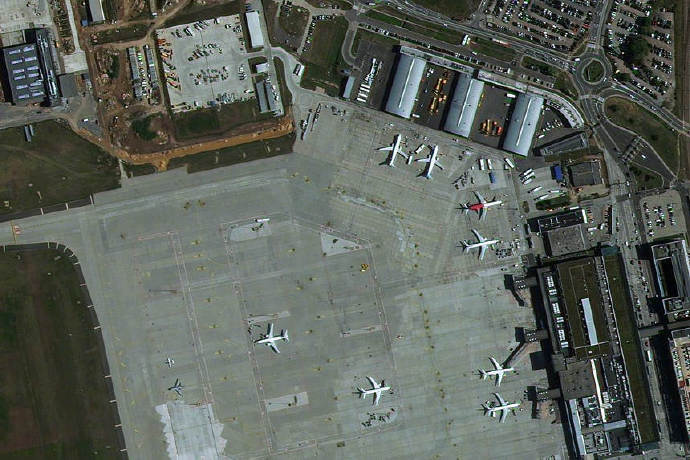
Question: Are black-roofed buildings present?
Yes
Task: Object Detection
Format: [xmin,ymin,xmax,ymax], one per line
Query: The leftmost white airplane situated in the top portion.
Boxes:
[379,134,410,167]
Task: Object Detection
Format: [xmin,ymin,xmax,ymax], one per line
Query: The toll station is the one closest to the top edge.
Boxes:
[619,134,645,162]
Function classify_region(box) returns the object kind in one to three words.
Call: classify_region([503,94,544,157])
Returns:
hangar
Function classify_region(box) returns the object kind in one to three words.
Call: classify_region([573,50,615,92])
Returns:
roundabout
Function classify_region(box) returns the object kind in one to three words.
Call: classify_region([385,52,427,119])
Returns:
hangar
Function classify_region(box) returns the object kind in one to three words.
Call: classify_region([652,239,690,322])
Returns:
building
